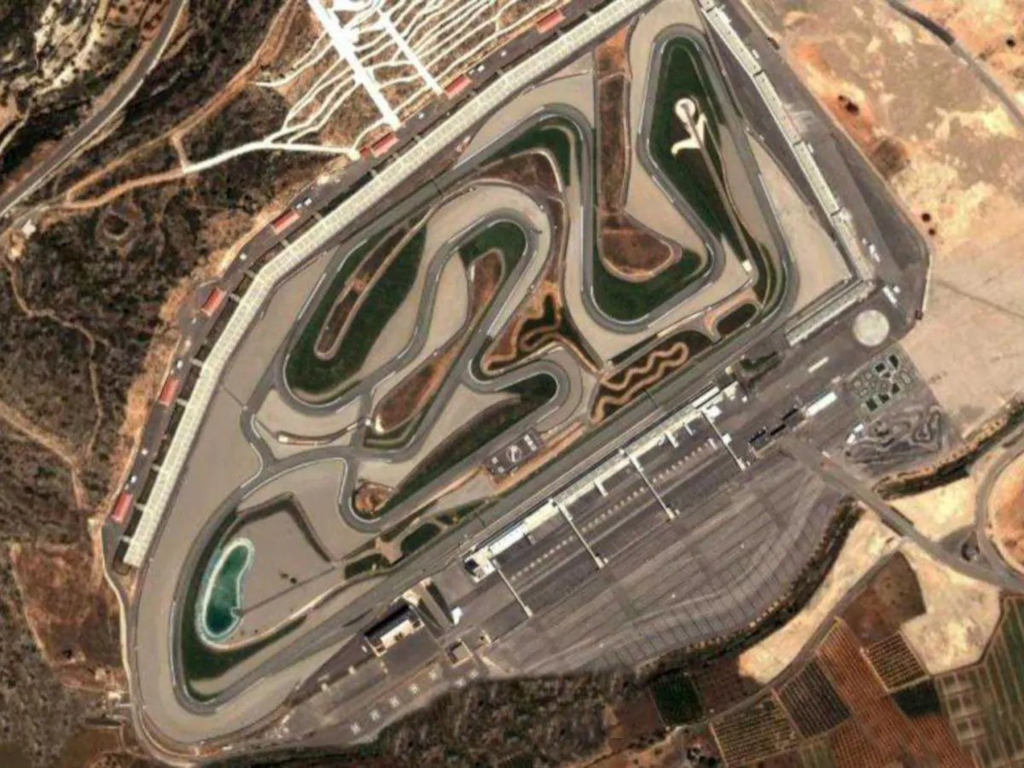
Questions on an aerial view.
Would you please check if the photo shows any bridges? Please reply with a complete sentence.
Yes, the frame does contain a bridge.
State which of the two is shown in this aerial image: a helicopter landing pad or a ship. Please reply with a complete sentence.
There is a helicopter landing pad in the scene.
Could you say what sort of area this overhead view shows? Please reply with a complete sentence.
What you see here is a sports ground.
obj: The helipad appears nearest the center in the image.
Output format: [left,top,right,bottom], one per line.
[485,426,545,477]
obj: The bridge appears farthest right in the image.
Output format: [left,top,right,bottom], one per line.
[861,487,909,531]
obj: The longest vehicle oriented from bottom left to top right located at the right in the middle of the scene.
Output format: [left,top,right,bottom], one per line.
[808,356,828,372]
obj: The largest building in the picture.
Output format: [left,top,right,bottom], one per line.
[478,383,739,558]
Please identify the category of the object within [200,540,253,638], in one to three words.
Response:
pond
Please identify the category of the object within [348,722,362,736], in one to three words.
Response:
helipad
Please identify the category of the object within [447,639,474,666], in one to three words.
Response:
building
